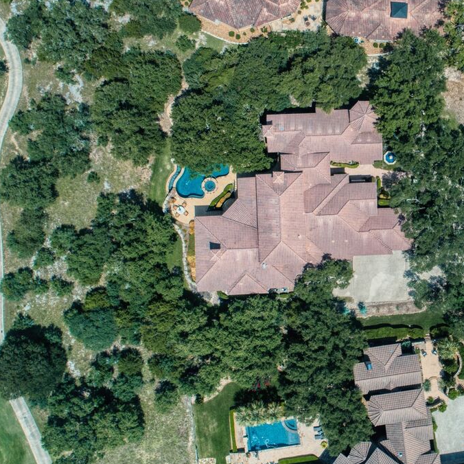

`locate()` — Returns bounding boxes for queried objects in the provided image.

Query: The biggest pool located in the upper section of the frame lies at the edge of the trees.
[176,162,230,198]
